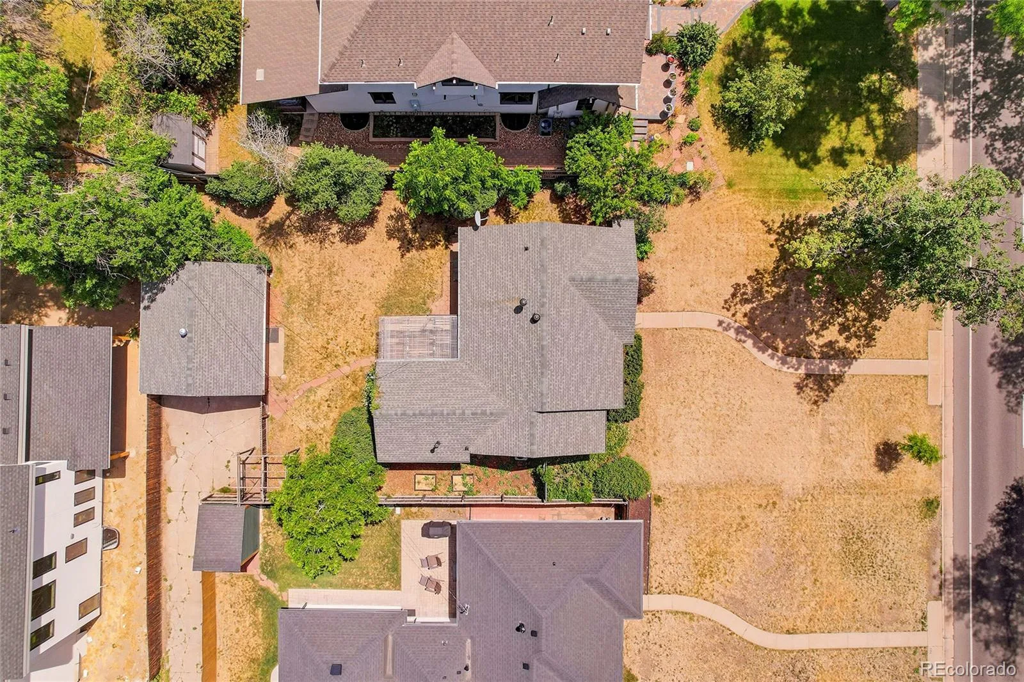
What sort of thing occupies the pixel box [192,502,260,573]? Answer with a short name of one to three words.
shed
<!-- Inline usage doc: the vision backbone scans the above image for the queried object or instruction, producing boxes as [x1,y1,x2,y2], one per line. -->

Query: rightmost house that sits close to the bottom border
[278,518,644,682]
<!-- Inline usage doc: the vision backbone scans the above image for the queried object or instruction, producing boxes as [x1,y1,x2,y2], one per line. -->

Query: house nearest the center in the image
[374,220,638,464]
